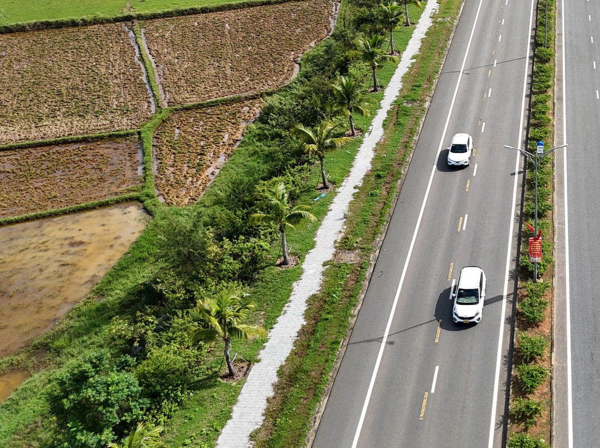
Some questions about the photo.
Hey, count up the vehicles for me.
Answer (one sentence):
The photo contains 2 vehicles.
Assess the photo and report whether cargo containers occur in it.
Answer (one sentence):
No, this view has no cargo container in it.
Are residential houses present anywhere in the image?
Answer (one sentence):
No, I find no residential house anywhere in the image.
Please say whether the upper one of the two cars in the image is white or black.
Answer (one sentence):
The upper one of the two cars is white.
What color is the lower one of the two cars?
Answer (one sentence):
The lower one of the two cars is white.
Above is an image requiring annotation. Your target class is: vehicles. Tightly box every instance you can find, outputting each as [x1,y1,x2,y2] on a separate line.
[450,267,486,325]
[446,133,474,167]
